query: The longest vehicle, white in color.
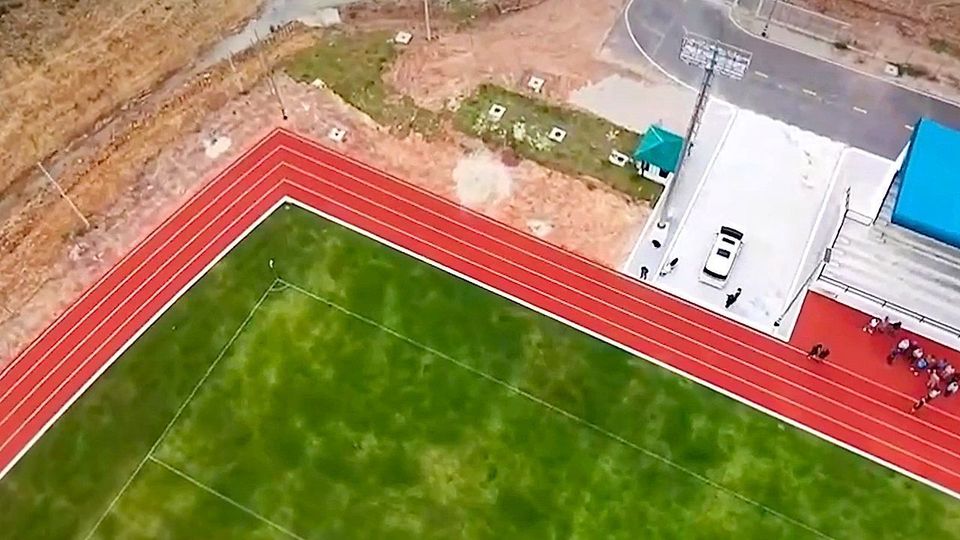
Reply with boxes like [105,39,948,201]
[700,222,745,287]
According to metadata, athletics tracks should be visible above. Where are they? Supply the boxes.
[0,127,960,502]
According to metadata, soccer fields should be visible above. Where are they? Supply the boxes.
[0,202,960,540]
